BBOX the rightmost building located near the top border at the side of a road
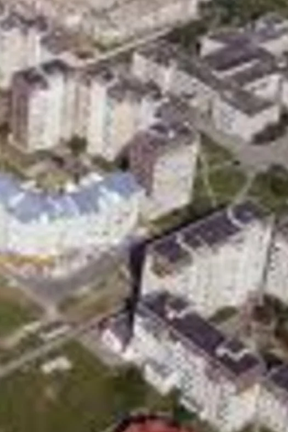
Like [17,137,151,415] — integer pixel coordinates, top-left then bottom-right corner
[133,13,288,137]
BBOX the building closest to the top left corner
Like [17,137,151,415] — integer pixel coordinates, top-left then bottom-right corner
[0,9,48,85]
